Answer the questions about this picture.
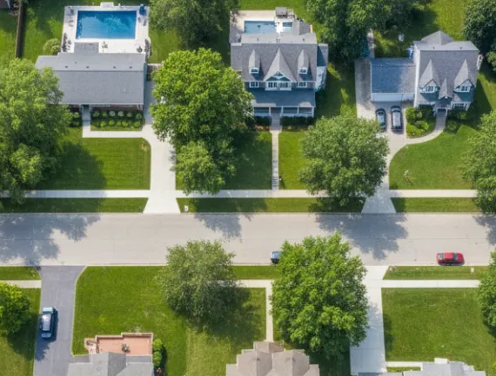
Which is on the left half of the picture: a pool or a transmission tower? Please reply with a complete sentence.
You can see a pool on the left half of the picture.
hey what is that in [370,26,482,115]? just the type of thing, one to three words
house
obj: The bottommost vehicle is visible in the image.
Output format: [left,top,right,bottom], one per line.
[41,308,56,340]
